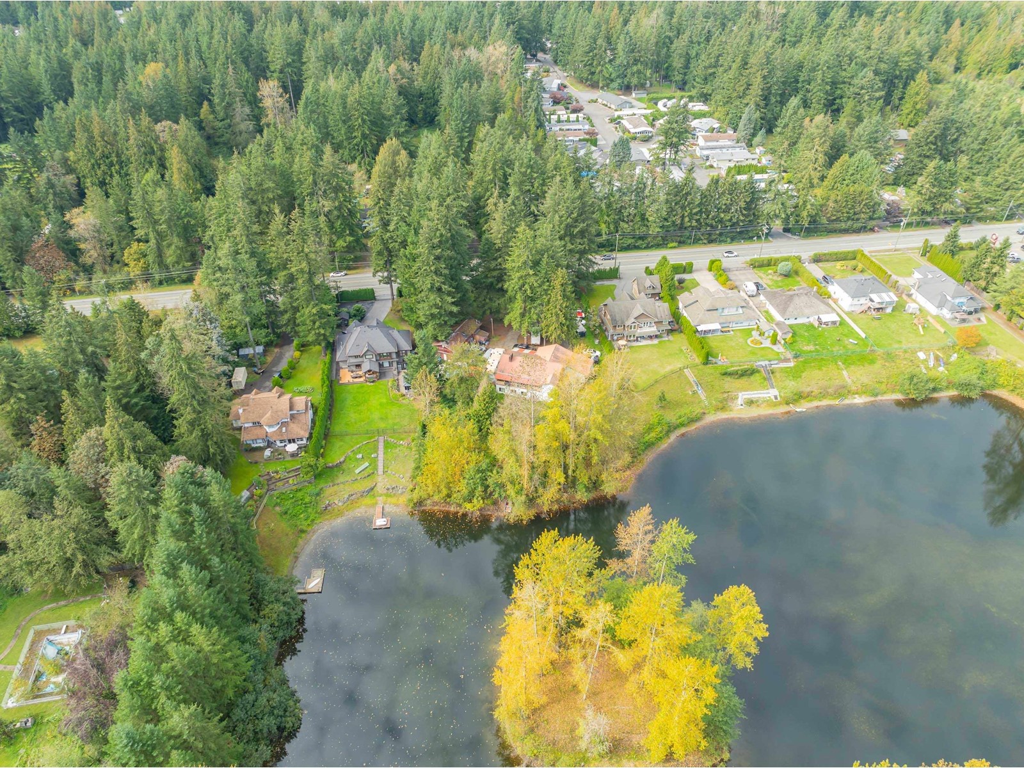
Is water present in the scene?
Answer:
Yes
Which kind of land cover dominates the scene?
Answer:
trees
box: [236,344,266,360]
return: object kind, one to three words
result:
shed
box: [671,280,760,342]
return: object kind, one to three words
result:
house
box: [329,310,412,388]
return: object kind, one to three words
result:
house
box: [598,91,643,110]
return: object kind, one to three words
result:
building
